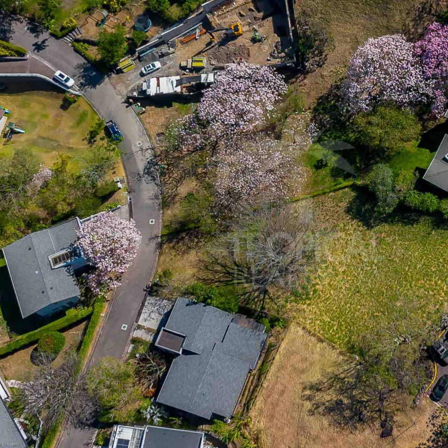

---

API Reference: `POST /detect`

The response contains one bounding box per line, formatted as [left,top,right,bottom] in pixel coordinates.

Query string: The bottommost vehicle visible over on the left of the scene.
[105,118,123,144]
